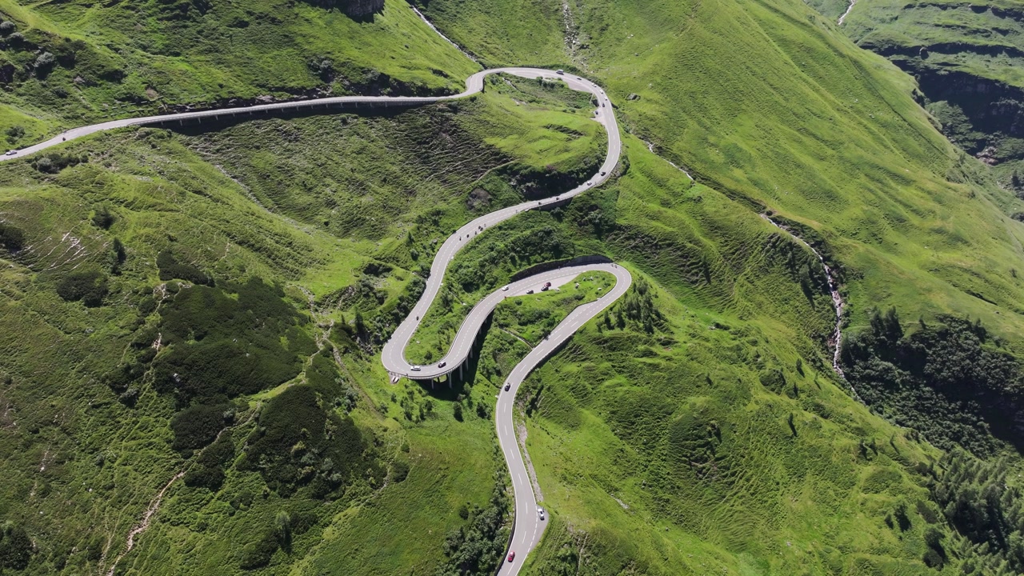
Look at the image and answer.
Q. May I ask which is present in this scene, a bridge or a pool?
bridge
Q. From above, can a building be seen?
No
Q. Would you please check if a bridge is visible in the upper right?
No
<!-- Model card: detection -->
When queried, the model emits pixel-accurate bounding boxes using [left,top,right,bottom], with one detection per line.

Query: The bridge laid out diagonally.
[400,301,498,389]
